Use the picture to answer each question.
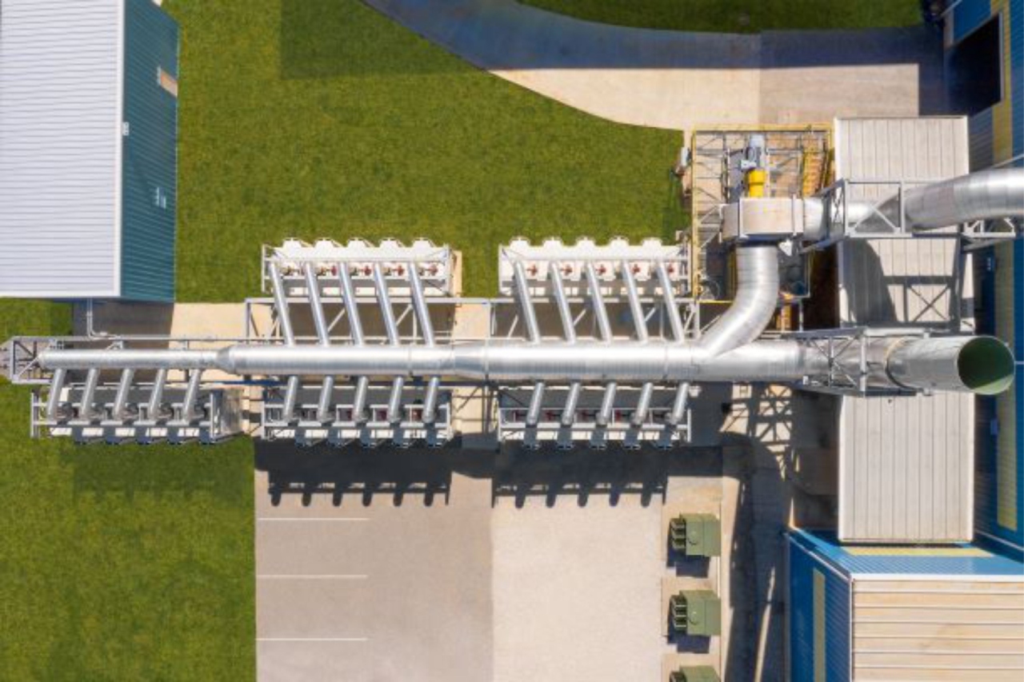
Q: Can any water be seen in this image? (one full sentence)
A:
No, there is no water in the image.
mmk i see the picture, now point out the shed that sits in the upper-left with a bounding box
[0,0,177,303]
